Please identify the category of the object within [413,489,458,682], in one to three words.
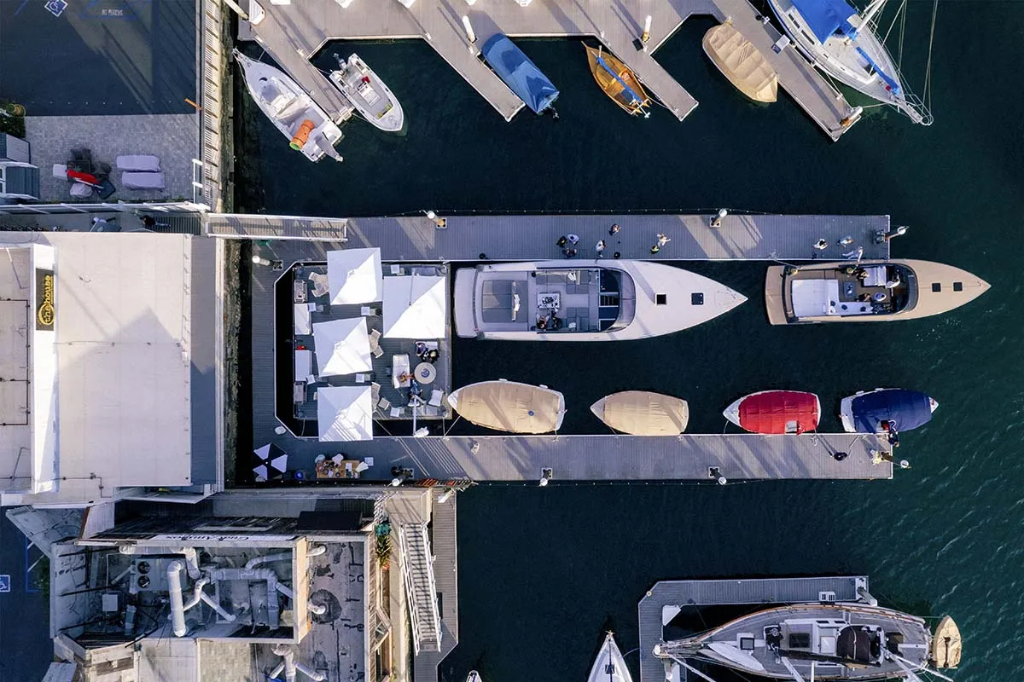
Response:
pier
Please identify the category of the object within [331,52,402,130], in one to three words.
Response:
boat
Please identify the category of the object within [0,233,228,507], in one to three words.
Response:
building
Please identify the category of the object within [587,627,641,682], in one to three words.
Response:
boat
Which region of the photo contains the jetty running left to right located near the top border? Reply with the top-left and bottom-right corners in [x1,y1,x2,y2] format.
[238,0,863,141]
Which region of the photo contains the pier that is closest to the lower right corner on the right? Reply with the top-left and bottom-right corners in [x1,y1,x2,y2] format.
[638,575,869,682]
